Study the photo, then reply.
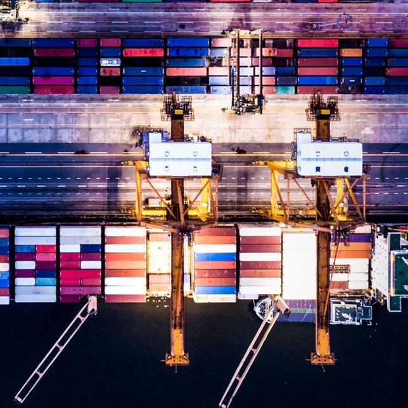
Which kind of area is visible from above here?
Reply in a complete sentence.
It's a port.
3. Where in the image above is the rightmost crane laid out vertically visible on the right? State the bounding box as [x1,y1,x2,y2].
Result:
[254,85,373,378]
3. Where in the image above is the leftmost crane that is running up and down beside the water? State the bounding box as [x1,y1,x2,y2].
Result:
[123,85,225,378]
